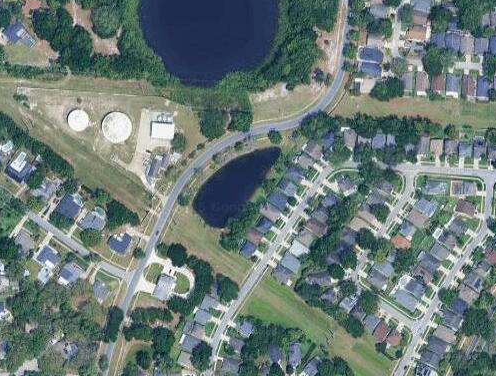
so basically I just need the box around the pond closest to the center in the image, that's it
[193,146,280,227]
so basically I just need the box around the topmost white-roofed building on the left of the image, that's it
[151,121,175,140]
